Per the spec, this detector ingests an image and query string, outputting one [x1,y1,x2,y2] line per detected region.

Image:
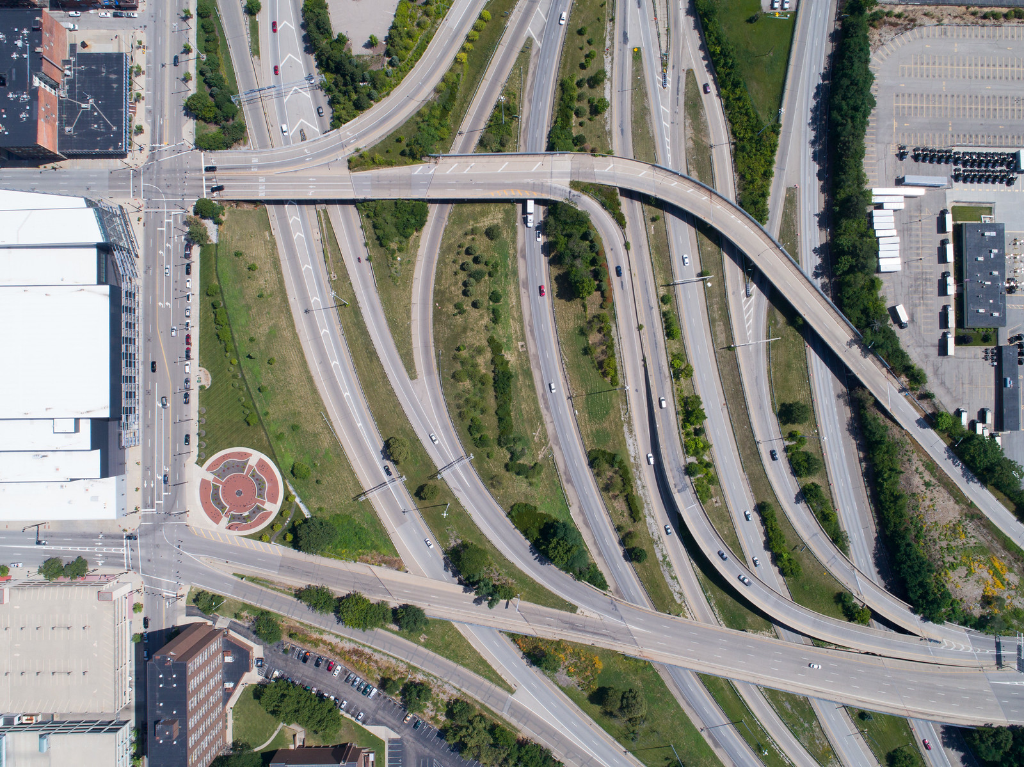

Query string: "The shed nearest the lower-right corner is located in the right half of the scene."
[997,345,1020,430]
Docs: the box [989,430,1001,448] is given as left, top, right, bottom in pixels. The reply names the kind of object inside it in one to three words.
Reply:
vehicle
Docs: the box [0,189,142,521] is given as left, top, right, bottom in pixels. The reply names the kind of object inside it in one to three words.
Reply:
building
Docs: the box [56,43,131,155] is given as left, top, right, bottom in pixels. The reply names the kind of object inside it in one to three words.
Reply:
building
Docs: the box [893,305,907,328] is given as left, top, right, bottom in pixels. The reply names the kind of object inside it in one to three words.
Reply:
vehicle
